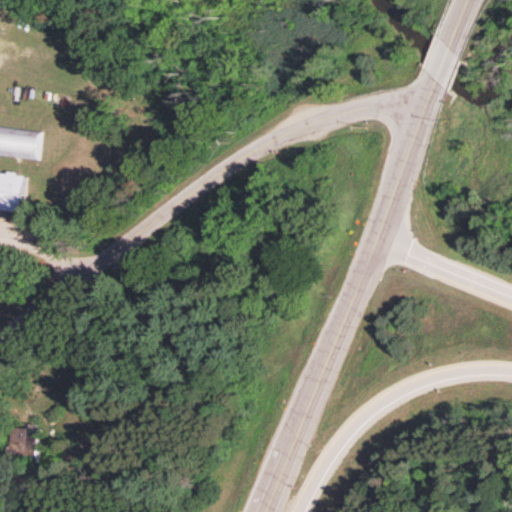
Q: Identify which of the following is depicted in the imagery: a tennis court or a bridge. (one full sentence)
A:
It is a bridge that can be seen here.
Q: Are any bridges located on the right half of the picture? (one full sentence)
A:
Yes, a bridge can be seen on the right half of the picture.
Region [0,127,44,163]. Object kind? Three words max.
building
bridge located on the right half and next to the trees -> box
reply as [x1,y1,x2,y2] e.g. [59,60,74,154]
[419,34,465,105]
